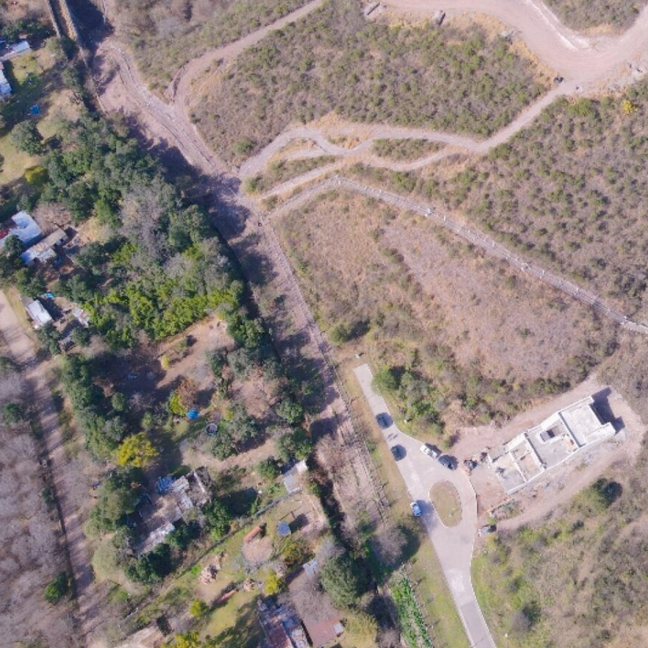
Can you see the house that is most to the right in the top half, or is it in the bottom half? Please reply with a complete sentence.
The bottom half of the photo is where the house that is most to the right is.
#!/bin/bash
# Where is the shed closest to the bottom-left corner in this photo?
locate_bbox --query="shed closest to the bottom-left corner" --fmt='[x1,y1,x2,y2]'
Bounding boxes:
[138,520,178,548]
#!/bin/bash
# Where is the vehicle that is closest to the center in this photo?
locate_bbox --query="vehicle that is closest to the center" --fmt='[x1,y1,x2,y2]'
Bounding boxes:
[375,410,388,429]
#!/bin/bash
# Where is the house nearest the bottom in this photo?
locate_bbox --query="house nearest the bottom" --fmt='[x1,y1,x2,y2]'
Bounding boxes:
[259,600,310,648]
